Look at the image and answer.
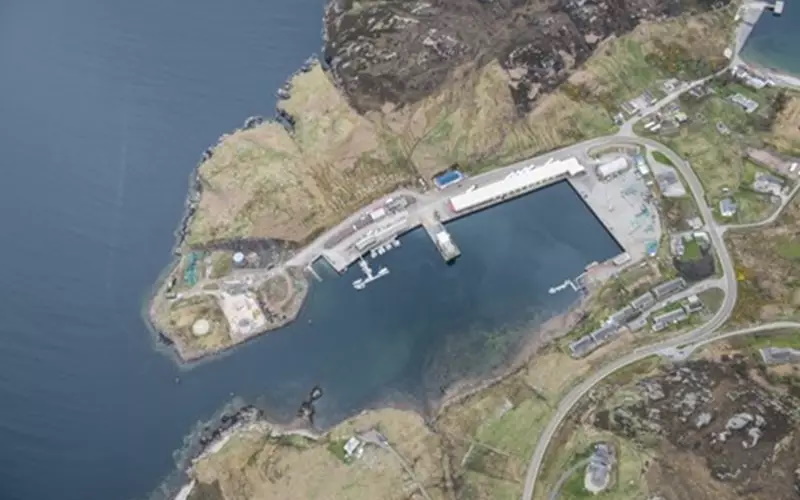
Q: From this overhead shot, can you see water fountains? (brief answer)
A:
No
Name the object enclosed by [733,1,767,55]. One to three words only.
pier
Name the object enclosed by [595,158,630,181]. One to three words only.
shed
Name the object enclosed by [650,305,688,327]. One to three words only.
house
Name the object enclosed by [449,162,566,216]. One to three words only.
building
